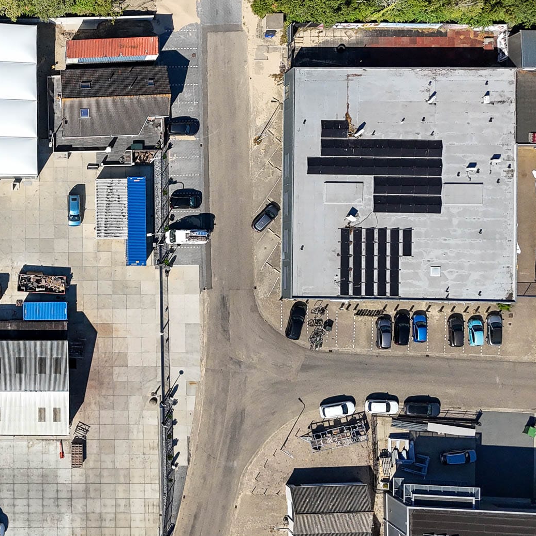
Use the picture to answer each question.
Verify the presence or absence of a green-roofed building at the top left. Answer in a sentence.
No, the scene shows no green-roofed building at the top left.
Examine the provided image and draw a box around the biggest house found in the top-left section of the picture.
[61,66,173,138]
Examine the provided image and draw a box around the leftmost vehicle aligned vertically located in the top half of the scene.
[65,193,82,227]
